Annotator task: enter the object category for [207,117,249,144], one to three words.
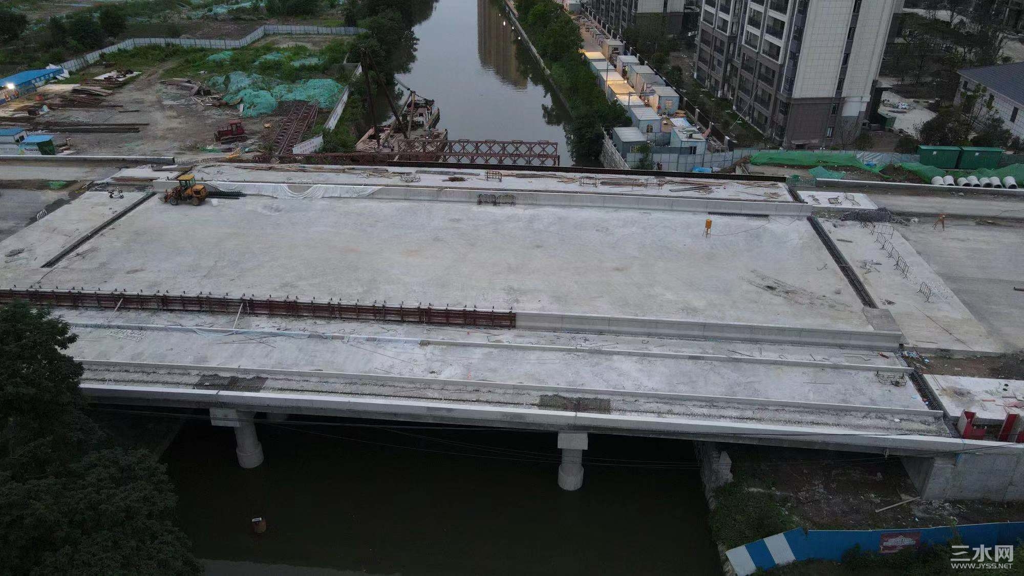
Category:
work vehicle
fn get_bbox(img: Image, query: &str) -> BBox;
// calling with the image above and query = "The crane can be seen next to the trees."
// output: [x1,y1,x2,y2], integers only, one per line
[359,47,431,149]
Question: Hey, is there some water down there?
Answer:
Yes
